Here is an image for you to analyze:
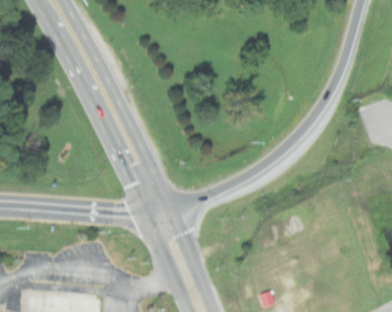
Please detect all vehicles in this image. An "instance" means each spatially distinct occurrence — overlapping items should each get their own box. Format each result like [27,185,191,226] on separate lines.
[198,195,208,200]
[118,152,128,165]
[96,104,104,118]
[324,90,331,100]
